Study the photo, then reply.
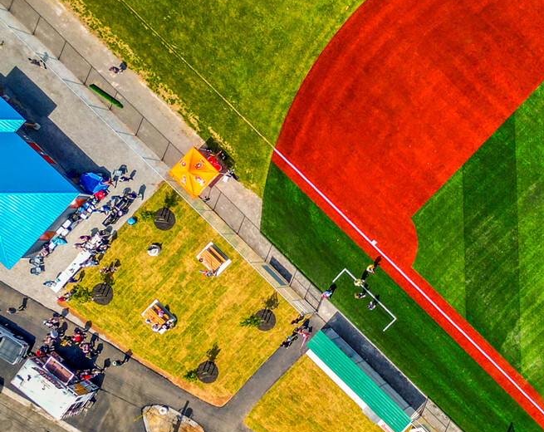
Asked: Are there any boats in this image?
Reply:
No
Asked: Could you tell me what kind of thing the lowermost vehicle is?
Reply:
truck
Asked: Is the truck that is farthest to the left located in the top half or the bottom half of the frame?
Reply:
bottom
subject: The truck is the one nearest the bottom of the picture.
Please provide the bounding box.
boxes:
[13,354,102,419]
